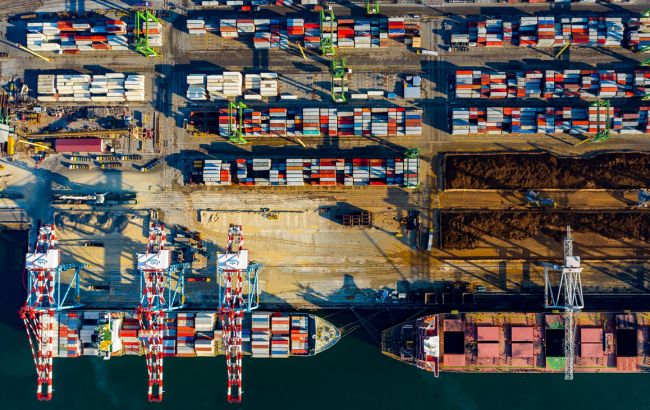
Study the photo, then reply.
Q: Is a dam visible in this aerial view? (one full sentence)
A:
No, no dam is visible in the scene.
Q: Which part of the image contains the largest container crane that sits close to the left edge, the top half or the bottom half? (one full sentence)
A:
It is in the bottom half that the largest container crane that sits close to the left edge appears.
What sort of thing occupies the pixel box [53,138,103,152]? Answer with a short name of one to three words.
building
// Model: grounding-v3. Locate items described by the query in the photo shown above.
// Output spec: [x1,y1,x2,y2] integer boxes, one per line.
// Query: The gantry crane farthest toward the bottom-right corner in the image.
[538,225,590,380]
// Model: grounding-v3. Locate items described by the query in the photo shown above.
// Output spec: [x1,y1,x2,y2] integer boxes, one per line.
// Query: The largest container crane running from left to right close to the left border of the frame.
[23,127,143,144]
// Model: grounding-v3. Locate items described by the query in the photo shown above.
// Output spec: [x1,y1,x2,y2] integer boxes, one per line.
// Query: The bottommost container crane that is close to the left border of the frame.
[13,225,93,400]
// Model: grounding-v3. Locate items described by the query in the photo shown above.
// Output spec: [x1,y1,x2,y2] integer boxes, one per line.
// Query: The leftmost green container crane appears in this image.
[136,13,162,58]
